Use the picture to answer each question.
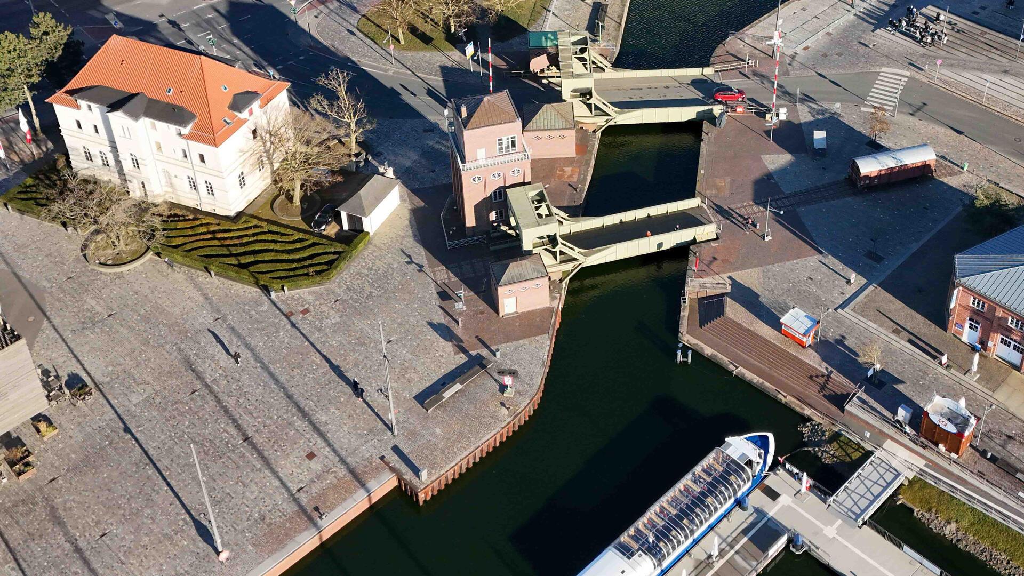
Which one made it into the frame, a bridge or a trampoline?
bridge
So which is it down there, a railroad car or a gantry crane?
railroad car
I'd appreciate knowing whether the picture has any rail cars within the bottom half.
No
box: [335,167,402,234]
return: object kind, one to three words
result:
building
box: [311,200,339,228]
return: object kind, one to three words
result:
car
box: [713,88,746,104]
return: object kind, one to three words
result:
car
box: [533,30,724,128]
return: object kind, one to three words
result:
bridge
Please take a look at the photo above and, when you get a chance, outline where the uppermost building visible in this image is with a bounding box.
[528,18,578,69]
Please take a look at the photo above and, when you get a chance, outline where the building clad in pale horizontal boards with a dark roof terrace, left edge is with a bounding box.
[0,309,50,433]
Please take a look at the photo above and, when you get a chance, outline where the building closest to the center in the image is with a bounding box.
[487,252,550,319]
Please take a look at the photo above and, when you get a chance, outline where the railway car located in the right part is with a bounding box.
[847,140,941,183]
